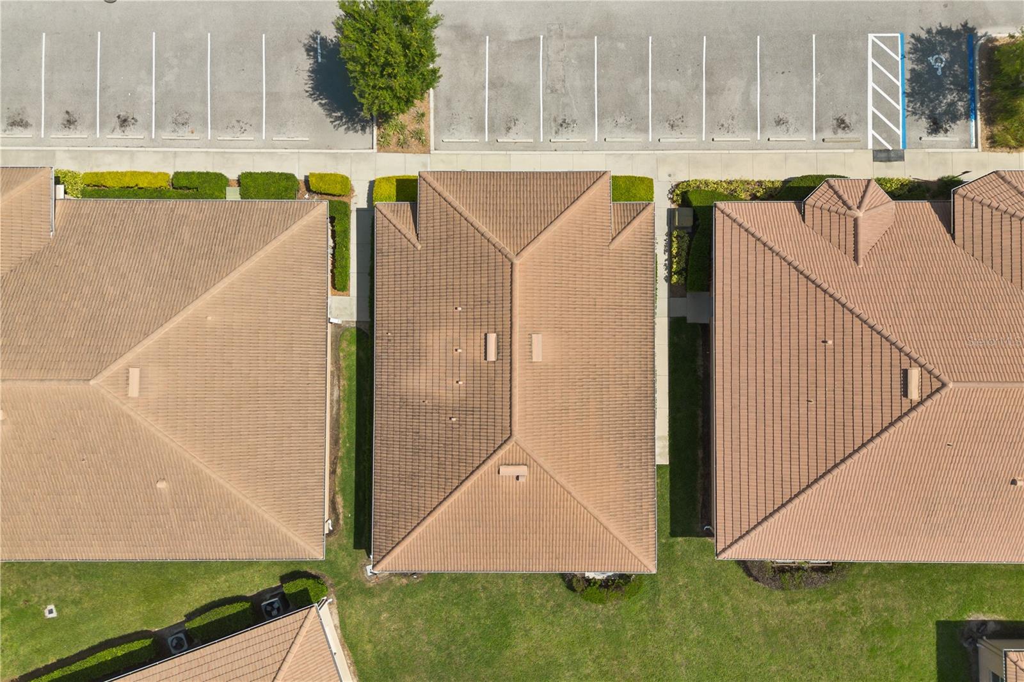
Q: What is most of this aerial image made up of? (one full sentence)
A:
For the most part, this view shows buildings.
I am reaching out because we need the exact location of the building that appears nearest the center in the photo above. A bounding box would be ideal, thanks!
[374,171,656,573]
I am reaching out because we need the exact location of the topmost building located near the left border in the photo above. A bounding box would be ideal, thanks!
[0,166,340,562]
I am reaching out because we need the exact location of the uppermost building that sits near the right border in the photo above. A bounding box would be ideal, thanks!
[700,170,1024,562]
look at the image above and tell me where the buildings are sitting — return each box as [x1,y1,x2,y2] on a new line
[374,171,656,573]
[973,632,1024,682]
[0,166,340,562]
[109,594,363,682]
[700,170,1024,562]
